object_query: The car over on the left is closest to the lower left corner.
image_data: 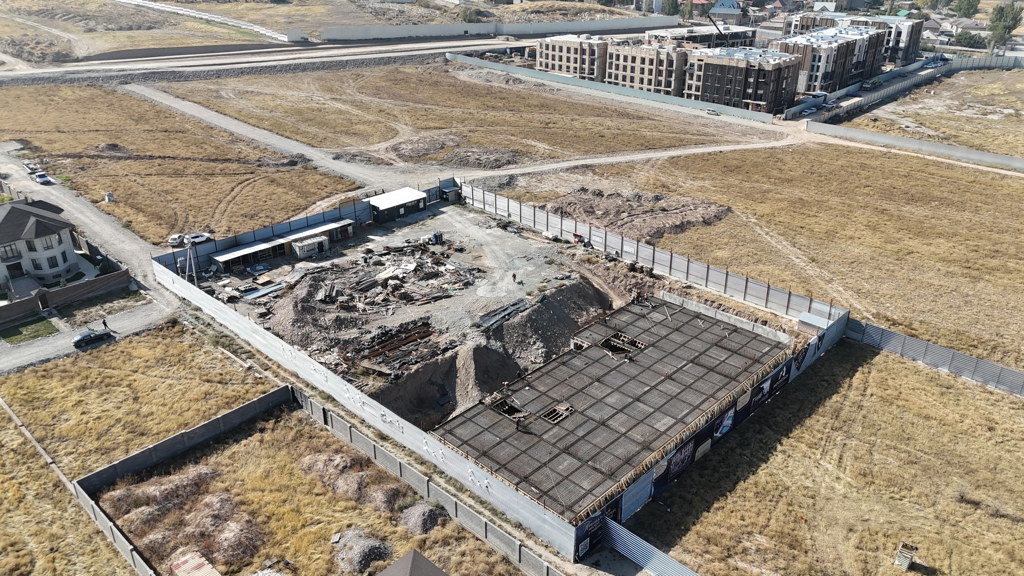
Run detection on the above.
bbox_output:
[75,328,113,346]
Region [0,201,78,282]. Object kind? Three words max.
house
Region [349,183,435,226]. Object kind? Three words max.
building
